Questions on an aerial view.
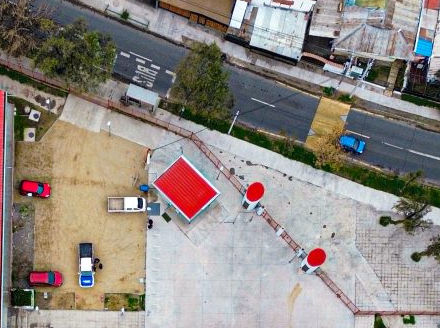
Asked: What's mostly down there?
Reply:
paved ground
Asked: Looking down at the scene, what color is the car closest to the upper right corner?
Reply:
blue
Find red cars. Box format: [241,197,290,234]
[29,269,63,287]
[19,180,51,199]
